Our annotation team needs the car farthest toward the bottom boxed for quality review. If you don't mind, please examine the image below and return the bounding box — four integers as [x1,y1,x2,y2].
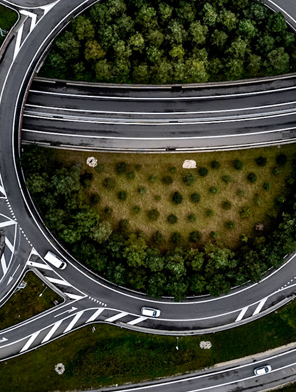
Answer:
[254,366,273,378]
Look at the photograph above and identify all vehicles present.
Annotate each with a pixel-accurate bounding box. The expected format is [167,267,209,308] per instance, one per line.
[141,308,161,319]
[254,366,273,378]
[43,252,64,270]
